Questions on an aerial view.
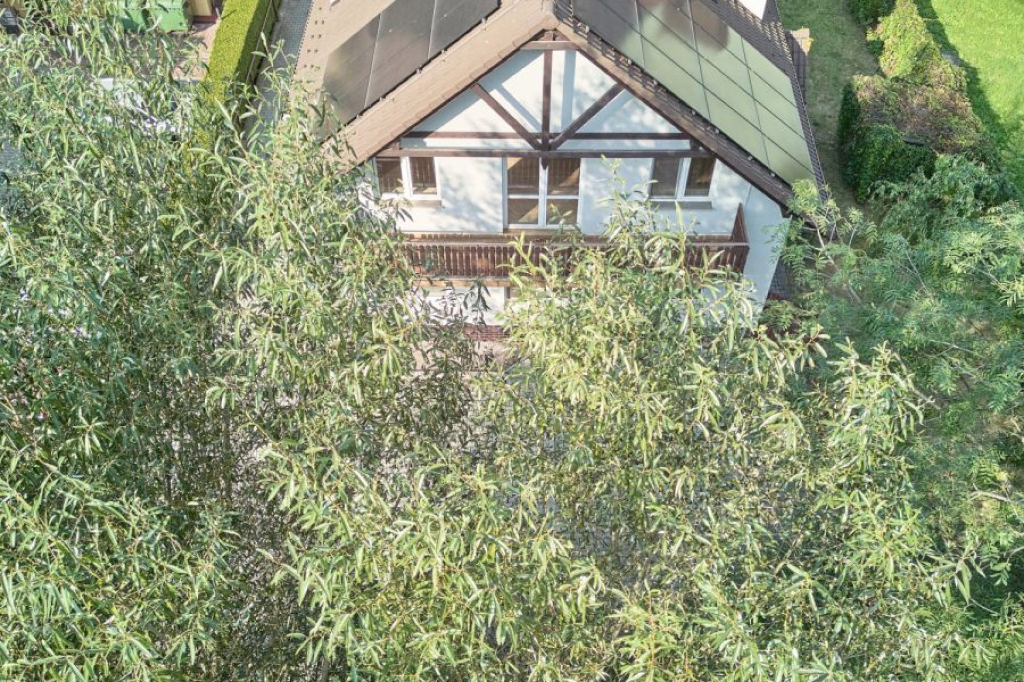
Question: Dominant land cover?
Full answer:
The scene is dominated by trees.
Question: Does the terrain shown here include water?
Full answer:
No, water can't be seen anywhere here.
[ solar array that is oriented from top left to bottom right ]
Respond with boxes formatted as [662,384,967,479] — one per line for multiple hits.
[577,0,829,205]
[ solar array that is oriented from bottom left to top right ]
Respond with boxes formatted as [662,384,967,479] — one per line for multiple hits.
[306,0,494,143]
